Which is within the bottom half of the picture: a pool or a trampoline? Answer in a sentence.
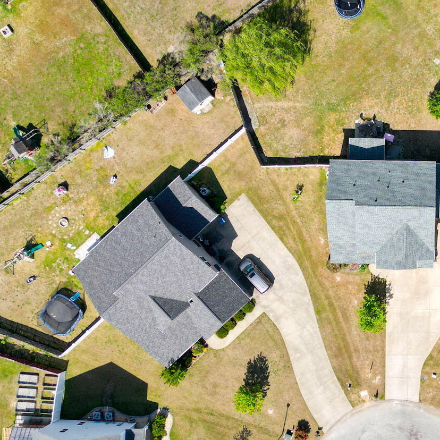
Looking within the bottom half of the picture, you will find a trampoline.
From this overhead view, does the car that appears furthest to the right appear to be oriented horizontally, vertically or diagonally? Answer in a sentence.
In this picture, the car that appears furthest to the right is oriented diagonally.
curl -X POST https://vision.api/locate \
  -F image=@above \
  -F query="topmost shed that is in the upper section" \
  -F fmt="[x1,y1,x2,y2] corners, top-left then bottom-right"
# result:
[176,77,218,113]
